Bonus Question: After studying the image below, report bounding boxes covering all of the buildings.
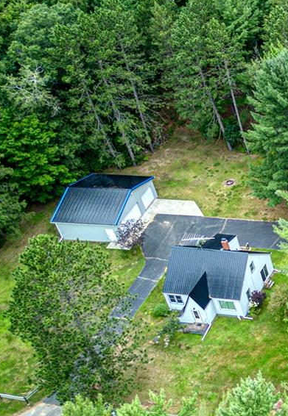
[50,174,153,242]
[163,228,282,339]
